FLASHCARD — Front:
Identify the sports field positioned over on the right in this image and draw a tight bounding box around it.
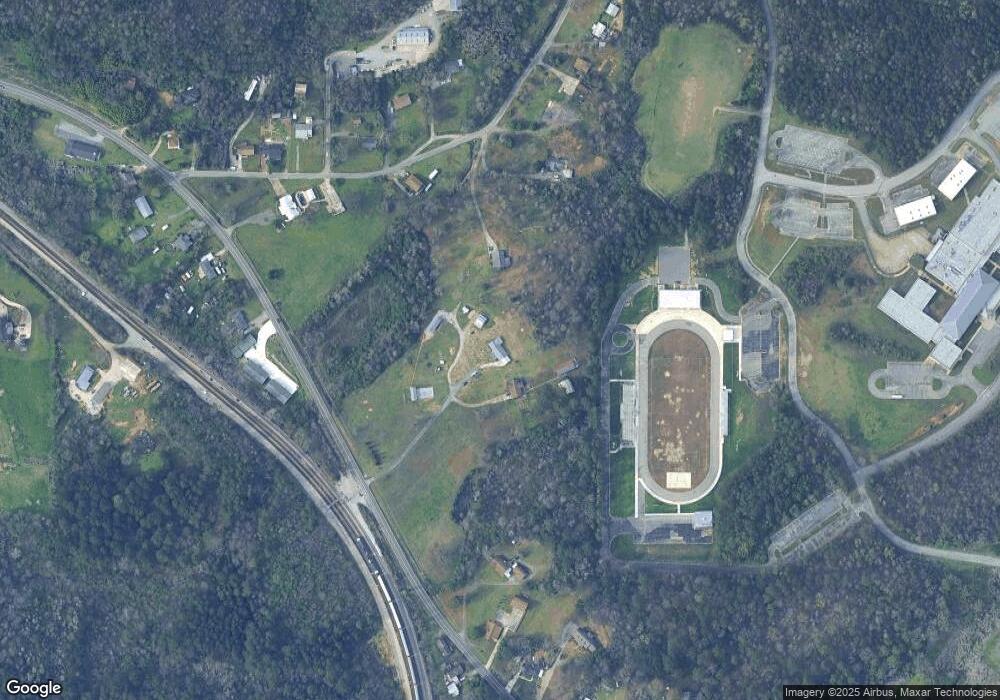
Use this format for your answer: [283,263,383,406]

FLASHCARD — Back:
[648,329,711,491]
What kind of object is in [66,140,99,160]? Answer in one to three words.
building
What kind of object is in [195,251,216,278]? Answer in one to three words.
house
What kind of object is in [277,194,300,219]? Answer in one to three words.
house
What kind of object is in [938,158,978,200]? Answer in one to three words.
building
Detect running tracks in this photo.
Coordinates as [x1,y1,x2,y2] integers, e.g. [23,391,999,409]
[639,319,721,501]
